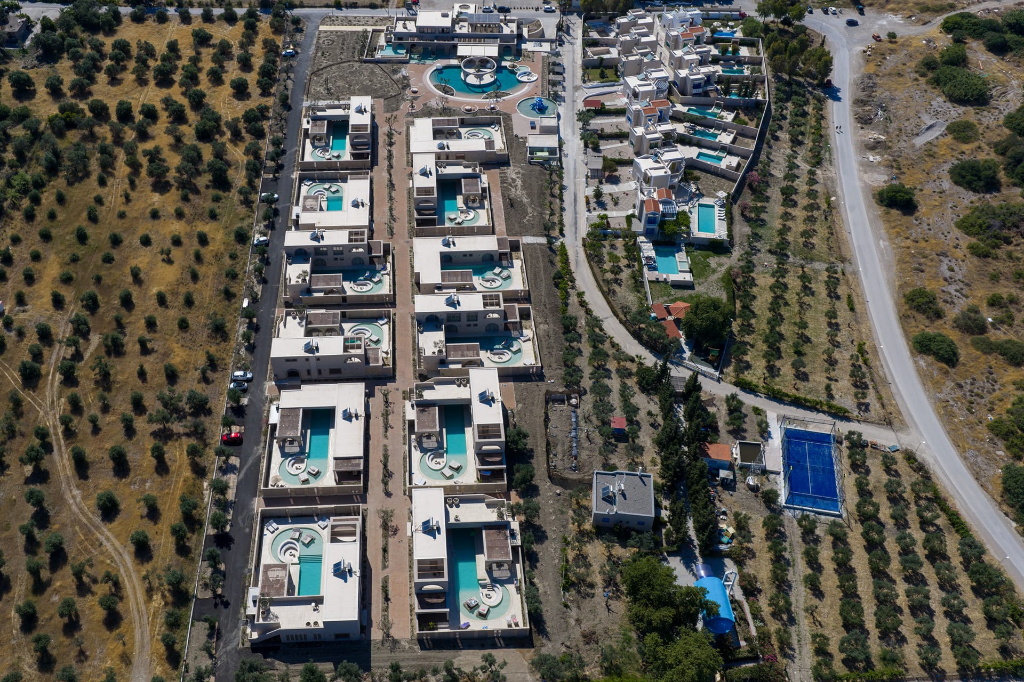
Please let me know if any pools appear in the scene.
Yes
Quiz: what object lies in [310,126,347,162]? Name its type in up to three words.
swimming pool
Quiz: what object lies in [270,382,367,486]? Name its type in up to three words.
house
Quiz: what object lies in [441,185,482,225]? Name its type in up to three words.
swimming pool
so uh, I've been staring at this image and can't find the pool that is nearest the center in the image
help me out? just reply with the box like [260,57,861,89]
[445,334,524,366]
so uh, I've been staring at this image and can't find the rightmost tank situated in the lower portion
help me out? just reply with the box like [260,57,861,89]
[733,441,764,470]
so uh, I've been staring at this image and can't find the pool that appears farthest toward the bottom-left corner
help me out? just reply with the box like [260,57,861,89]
[268,522,326,601]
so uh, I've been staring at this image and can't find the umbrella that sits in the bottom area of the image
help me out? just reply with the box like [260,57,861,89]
[269,471,284,484]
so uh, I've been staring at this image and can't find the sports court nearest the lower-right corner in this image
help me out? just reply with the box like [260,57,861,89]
[778,415,844,514]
